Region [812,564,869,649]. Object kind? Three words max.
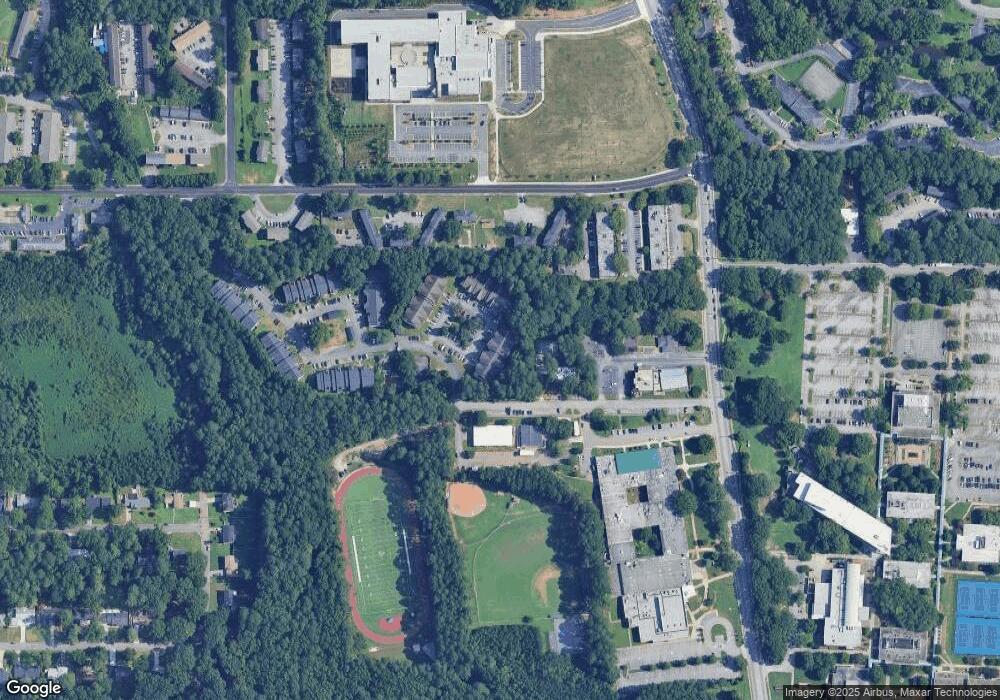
building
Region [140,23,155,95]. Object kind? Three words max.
house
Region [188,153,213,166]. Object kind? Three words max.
house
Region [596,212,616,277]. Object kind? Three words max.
building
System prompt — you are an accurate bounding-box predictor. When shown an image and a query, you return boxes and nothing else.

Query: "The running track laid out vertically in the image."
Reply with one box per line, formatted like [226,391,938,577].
[334,467,429,643]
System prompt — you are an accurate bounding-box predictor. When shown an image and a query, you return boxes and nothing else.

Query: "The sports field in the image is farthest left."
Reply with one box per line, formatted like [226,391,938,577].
[342,474,422,636]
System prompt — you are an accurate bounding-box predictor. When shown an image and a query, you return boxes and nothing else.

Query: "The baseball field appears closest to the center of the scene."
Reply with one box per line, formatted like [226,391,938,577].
[448,482,486,517]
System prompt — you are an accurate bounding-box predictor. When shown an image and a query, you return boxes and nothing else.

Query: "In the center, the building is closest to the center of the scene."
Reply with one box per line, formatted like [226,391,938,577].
[473,339,508,378]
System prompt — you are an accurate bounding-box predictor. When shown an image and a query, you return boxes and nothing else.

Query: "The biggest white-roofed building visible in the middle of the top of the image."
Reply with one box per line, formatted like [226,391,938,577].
[341,10,493,100]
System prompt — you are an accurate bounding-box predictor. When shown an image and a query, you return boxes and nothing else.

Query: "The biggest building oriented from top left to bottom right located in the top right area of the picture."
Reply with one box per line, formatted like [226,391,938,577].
[771,73,829,130]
